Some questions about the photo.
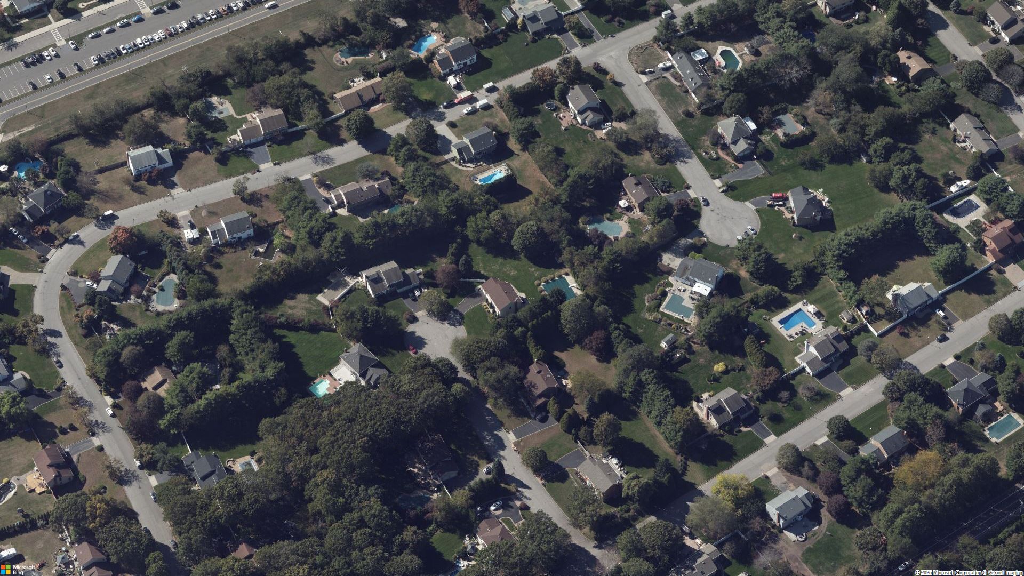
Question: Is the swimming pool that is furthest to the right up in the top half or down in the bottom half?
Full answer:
Seen from above, the swimming pool that is furthest to the right lies in the bottom half of the view.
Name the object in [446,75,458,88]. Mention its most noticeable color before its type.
white vehicle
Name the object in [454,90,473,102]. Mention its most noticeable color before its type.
white vehicle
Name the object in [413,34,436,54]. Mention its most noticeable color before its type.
blue swimming pool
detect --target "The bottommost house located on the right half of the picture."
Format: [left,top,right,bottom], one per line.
[684,542,721,576]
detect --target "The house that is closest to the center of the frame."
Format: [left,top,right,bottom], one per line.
[480,275,522,318]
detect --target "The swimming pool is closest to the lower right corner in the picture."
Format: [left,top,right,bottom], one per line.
[989,414,1022,440]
